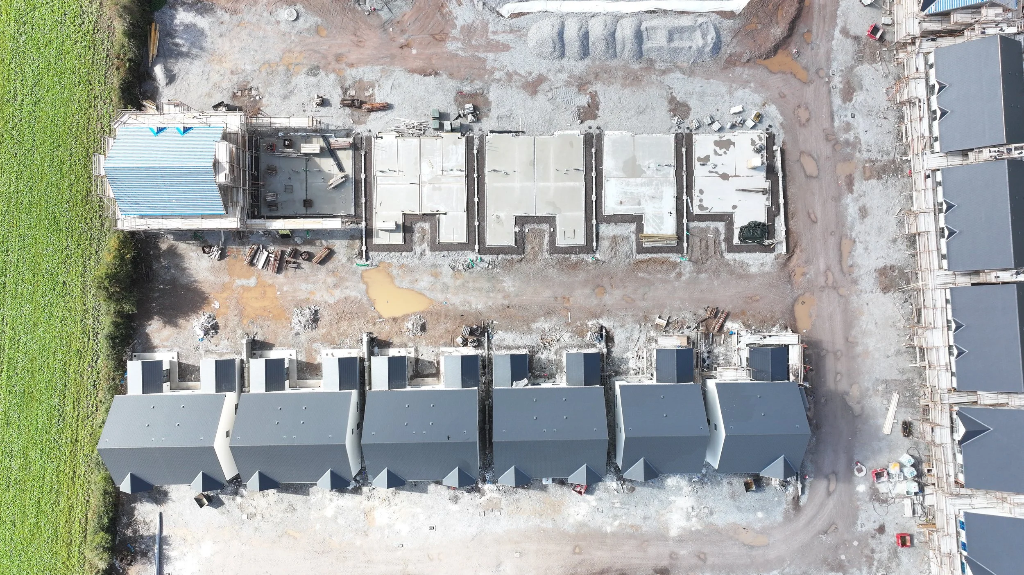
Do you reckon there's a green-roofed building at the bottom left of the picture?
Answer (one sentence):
No, no green-roofed building appears at the bottom left of the picture.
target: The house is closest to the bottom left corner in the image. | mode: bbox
[95,358,241,494]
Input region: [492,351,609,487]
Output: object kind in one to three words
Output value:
house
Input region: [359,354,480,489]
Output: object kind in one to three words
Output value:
house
